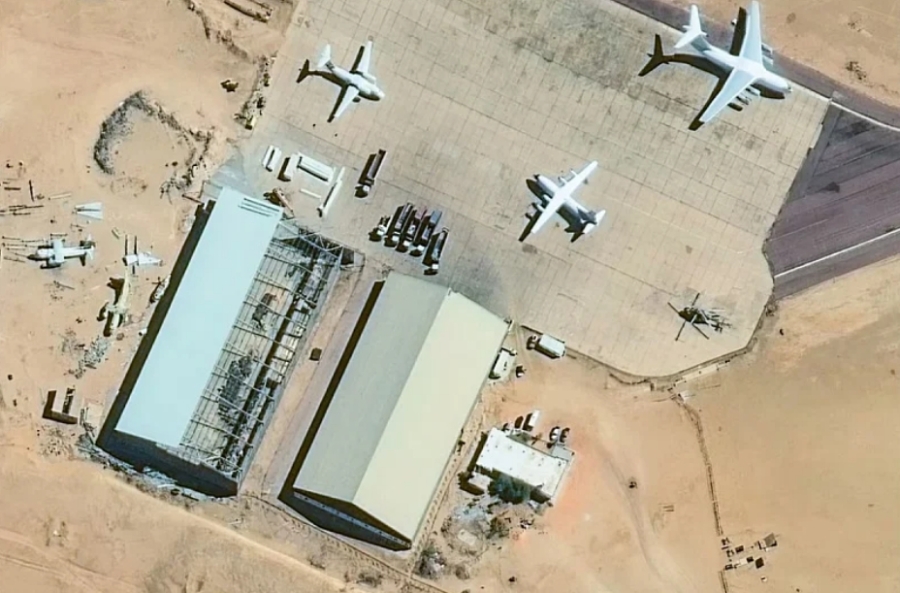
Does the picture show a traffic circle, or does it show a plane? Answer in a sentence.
Looking from above, you can make out a plane.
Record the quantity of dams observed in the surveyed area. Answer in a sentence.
No dams are visible.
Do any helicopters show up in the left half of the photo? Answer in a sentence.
No, I see no helicopter in the left half of the photo.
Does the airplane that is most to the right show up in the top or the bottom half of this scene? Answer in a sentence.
It is in the top half that the airplane that is most to the right appears.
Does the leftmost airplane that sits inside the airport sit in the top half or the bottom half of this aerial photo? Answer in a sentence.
The leftmost airplane that sits inside the airport is in the top half of the image.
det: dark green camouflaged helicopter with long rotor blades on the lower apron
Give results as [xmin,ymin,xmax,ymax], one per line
[679,285,735,332]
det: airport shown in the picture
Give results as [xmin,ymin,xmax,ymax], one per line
[196,0,900,385]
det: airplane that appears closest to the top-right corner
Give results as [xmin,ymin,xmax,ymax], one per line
[675,0,792,119]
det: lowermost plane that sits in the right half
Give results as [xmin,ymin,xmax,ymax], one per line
[528,158,606,237]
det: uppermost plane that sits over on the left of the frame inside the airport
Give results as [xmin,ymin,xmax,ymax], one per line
[317,41,383,118]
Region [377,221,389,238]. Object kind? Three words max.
vehicle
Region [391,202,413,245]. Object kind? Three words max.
truck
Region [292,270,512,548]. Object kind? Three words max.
hangar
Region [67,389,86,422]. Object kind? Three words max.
shed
